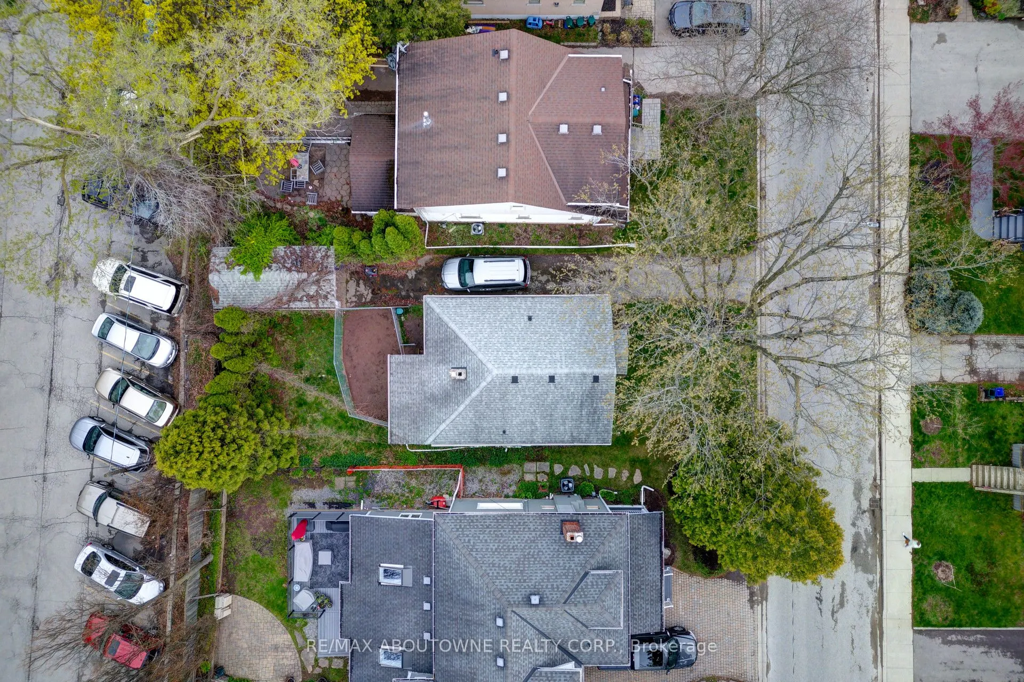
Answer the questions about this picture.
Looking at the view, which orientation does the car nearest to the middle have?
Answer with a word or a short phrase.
from left to right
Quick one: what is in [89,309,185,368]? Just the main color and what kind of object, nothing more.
white car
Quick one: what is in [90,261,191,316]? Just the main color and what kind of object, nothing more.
white car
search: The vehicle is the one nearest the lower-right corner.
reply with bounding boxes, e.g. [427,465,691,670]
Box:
[627,626,697,673]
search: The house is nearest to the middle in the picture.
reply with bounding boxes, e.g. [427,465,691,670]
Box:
[386,292,628,452]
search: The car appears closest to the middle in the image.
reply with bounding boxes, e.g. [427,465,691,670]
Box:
[441,252,532,293]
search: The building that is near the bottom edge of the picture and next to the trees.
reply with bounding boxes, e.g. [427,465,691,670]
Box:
[337,486,673,682]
